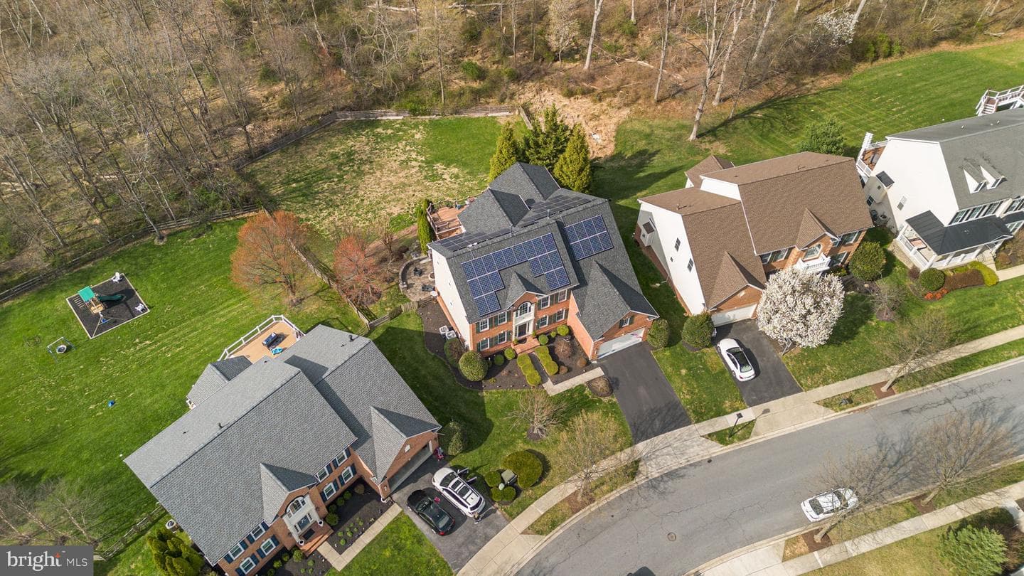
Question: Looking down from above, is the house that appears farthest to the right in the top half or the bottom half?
top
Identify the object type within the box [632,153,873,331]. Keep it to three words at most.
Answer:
house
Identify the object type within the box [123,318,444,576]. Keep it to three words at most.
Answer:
house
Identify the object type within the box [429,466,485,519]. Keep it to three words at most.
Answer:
car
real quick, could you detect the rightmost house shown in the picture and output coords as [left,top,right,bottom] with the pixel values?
[845,92,1024,274]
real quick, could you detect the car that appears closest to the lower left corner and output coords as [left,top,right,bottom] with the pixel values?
[401,487,457,542]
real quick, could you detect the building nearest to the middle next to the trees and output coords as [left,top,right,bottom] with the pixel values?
[427,165,659,361]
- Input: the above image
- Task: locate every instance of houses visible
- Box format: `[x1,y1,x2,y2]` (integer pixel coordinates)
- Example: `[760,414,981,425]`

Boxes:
[123,318,444,576]
[845,92,1024,274]
[632,153,873,331]
[427,165,659,361]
